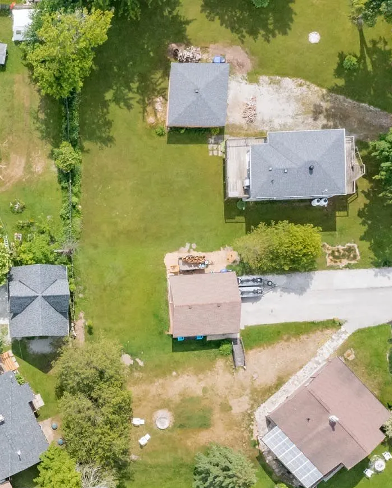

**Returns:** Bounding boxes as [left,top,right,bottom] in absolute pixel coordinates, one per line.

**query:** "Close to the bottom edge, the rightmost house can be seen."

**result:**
[255,356,390,488]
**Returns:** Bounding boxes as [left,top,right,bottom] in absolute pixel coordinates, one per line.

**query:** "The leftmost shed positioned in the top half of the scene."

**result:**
[11,8,37,49]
